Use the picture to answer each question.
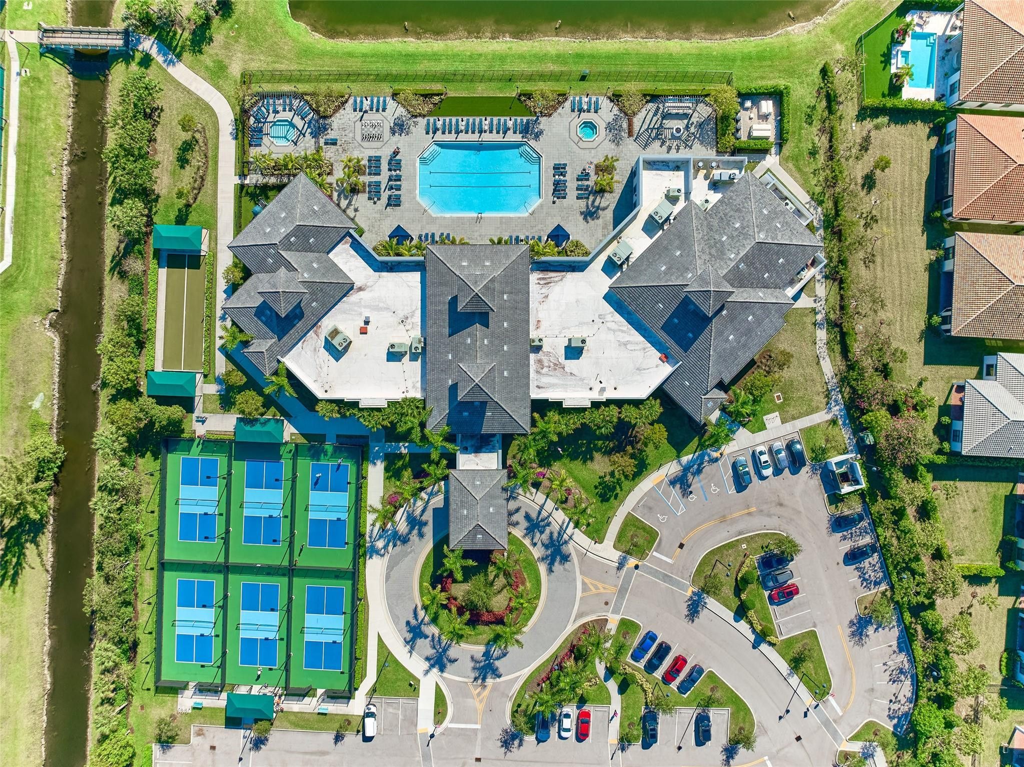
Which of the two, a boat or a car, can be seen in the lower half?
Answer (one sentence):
The feature located in the lower half is a car.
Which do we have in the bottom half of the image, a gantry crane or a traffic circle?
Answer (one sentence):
The feature located in the bottom half of the image is a traffic circle.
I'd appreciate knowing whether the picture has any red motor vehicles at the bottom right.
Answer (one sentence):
Yes, I can see a red motor vehicle at the bottom right.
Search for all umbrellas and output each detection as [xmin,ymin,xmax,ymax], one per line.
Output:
[546,222,571,244]
[388,220,415,245]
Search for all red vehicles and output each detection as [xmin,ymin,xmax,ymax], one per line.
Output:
[661,653,688,684]
[768,583,800,602]
[577,708,592,739]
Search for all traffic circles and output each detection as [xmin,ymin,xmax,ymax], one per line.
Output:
[384,492,579,682]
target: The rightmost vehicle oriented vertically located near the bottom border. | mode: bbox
[697,709,712,746]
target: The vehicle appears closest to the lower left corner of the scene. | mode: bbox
[363,703,378,736]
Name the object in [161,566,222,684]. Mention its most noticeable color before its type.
green sports court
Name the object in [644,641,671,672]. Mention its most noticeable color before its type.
black car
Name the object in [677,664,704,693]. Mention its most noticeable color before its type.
blue car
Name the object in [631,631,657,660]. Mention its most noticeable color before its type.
blue car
